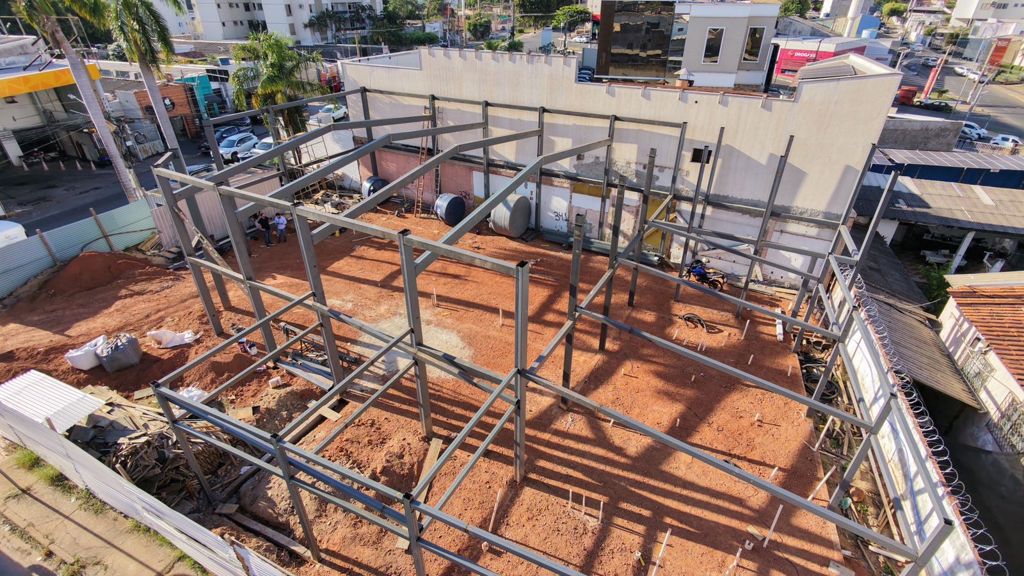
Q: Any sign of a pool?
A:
No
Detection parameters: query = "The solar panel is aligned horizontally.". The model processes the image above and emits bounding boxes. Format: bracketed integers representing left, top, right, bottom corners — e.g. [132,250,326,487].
[799,64,860,79]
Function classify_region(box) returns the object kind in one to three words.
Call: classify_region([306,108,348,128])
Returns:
car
